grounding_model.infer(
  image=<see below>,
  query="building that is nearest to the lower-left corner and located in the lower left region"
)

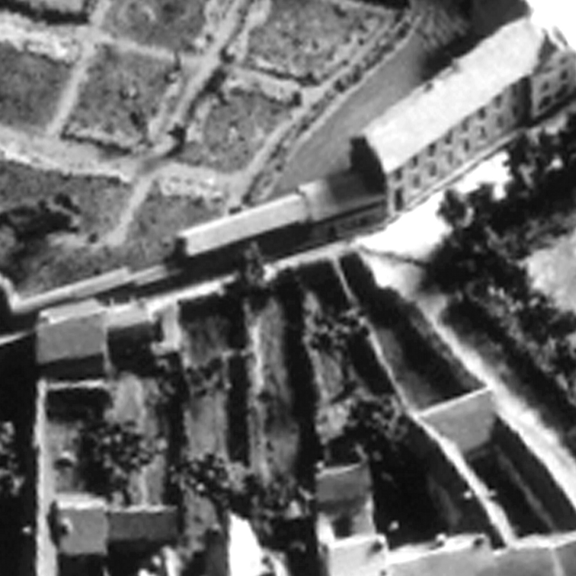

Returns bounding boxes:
[55,498,111,576]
